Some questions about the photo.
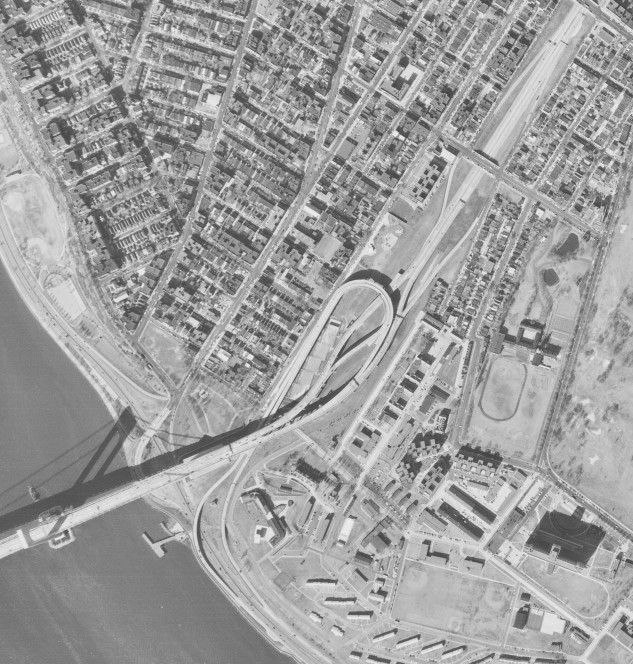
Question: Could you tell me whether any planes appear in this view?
No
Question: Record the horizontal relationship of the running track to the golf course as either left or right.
to its left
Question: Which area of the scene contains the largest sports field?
bottom right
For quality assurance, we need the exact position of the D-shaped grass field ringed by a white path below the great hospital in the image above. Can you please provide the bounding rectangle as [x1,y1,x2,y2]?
[523,555,610,619]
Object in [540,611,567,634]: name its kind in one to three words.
house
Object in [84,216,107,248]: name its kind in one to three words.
building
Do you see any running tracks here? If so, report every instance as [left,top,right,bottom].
[479,355,527,421]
